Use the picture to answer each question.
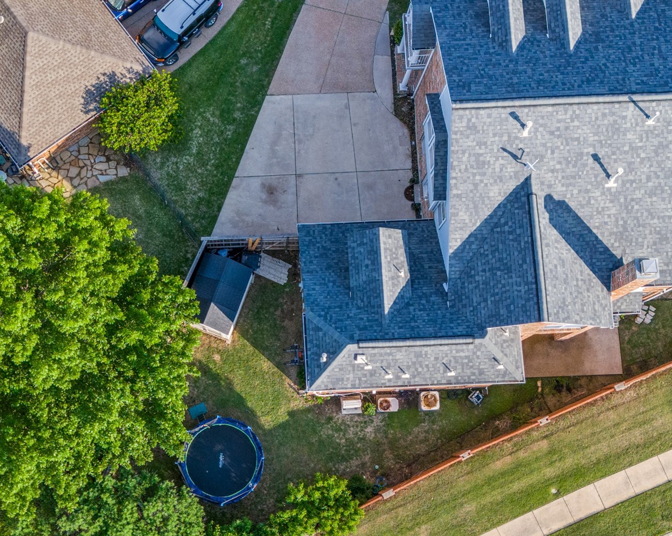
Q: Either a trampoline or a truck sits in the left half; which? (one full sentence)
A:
It is a trampoline that can be seen in the left half.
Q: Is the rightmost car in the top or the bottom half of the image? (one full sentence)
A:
It is in the top half that the rightmost car appears.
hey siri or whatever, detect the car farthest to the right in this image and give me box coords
[136,0,225,69]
